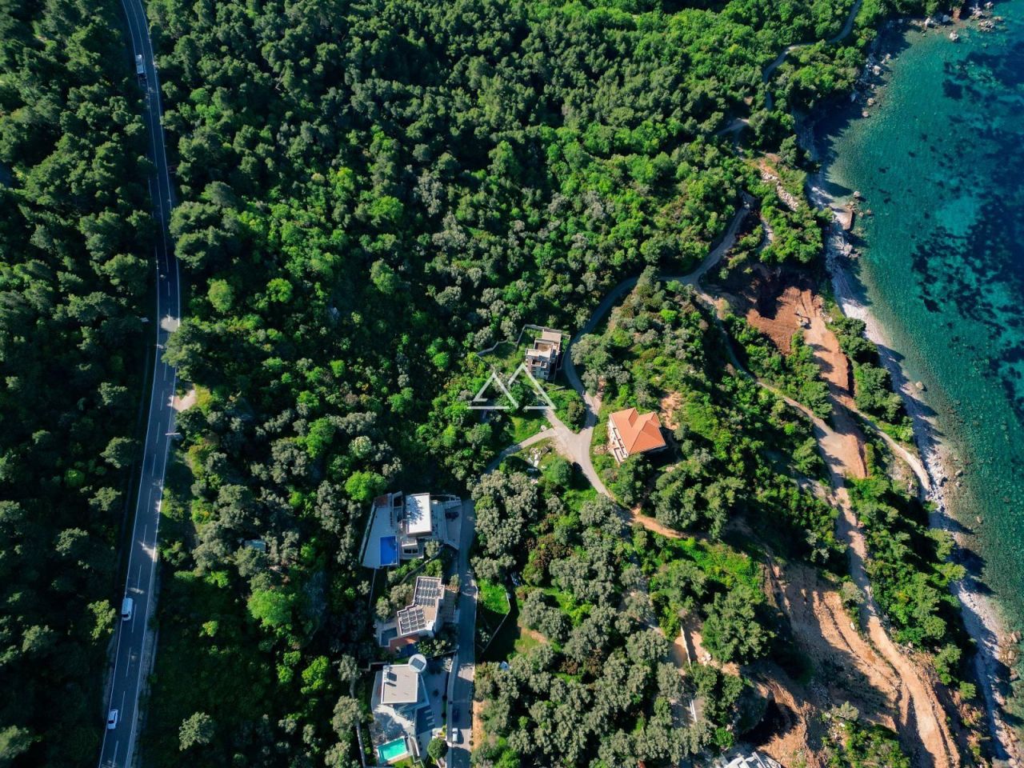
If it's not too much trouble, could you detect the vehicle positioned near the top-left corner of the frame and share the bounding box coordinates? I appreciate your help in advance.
[134,55,147,79]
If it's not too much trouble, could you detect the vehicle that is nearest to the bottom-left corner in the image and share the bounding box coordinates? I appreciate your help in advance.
[107,707,120,729]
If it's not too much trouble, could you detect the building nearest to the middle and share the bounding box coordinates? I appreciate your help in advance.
[525,331,561,383]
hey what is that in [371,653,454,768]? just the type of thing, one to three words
house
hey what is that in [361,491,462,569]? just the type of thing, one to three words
house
